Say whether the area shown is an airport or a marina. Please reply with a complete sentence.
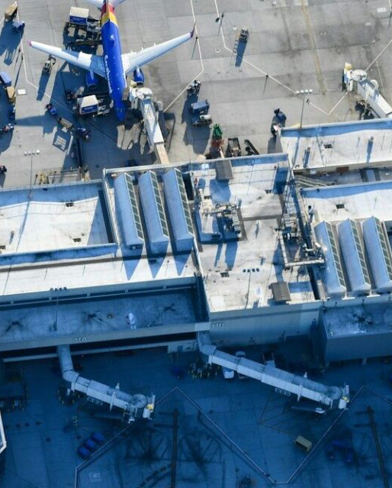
What you see here is an airport.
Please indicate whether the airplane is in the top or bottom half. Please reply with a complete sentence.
The airplane sits in the top half of the picture.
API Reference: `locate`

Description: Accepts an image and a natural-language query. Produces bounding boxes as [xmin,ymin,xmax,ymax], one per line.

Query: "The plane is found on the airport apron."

[25,0,196,121]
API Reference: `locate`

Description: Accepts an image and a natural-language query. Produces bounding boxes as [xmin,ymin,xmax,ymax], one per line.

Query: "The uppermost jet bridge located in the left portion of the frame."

[124,76,168,167]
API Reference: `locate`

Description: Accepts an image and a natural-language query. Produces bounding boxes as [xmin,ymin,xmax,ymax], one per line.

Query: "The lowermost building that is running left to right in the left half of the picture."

[0,290,206,363]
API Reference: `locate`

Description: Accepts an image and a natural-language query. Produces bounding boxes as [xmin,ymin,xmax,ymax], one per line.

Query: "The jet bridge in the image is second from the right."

[199,328,354,411]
